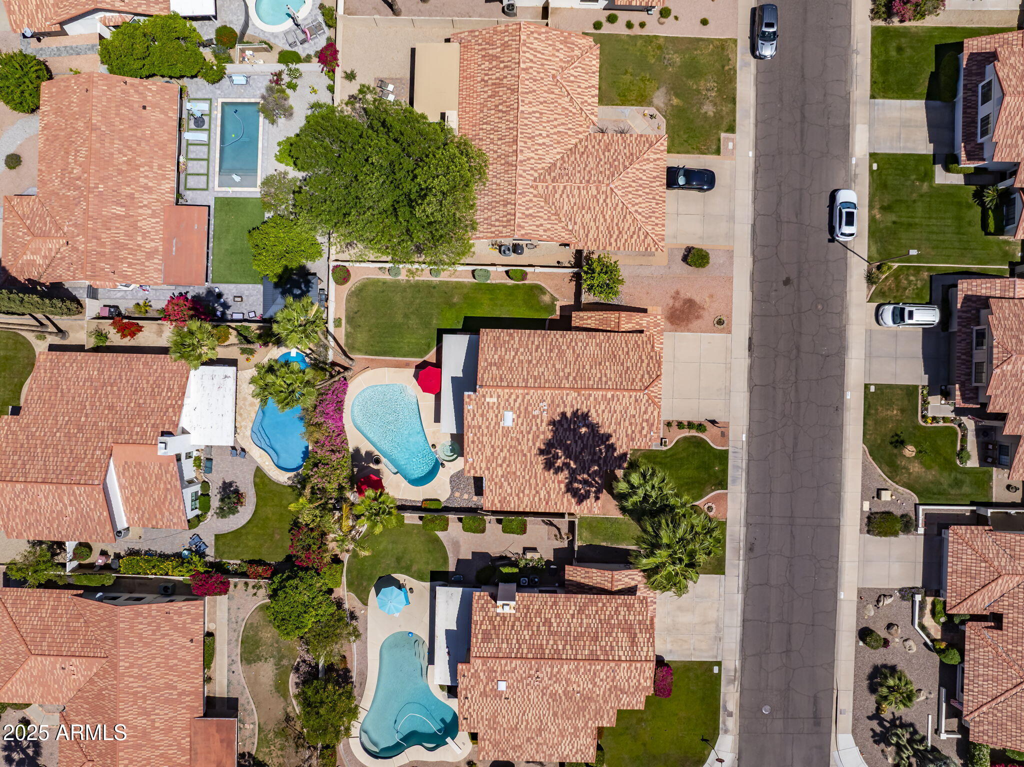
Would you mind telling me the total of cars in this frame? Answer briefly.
4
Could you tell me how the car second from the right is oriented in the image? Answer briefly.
up and down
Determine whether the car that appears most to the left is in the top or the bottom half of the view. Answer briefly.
top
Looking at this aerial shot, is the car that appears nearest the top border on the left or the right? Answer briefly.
right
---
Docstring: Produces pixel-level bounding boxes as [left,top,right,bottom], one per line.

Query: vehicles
[875,303,940,329]
[752,3,779,61]
[666,166,715,192]
[832,189,859,242]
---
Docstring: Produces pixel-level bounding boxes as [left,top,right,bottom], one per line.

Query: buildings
[936,525,1024,754]
[434,565,660,763]
[0,72,219,289]
[414,22,669,252]
[0,352,245,544]
[3,0,222,34]
[0,586,246,767]
[950,30,1024,238]
[440,312,665,514]
[944,277,1024,481]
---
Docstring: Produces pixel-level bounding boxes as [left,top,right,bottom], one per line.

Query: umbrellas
[416,366,442,394]
[356,472,384,499]
[287,6,309,35]
[378,585,407,615]
[190,110,204,128]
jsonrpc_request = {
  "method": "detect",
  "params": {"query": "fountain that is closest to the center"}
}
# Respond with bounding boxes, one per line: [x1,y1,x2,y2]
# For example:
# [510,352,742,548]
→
[438,440,460,462]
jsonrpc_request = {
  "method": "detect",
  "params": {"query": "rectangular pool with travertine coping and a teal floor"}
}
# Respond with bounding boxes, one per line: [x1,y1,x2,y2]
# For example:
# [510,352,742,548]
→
[213,98,264,192]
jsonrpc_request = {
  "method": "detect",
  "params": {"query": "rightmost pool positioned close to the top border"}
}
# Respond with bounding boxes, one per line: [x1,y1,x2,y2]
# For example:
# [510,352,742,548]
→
[249,0,312,32]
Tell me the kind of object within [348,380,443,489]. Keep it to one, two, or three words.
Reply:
swimming pool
